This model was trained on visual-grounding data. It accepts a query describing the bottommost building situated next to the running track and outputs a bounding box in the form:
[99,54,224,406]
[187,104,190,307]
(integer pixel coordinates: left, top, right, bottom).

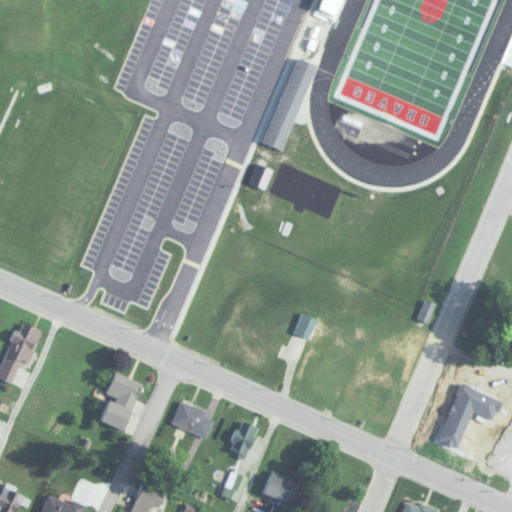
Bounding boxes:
[253,56,318,152]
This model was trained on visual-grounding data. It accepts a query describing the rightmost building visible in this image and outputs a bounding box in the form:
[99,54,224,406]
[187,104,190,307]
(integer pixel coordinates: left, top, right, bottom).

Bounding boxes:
[436,384,503,452]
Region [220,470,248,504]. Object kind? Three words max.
building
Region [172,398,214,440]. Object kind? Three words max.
house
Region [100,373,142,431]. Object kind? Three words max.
house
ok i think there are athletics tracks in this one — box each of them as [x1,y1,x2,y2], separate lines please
[304,0,512,193]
